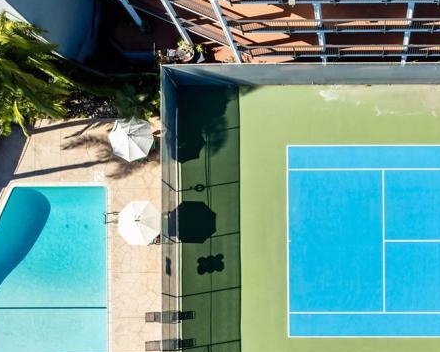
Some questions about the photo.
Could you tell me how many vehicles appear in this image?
0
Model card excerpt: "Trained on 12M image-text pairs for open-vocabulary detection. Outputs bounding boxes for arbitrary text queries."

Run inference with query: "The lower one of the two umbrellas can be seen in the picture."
[119,202,161,244]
